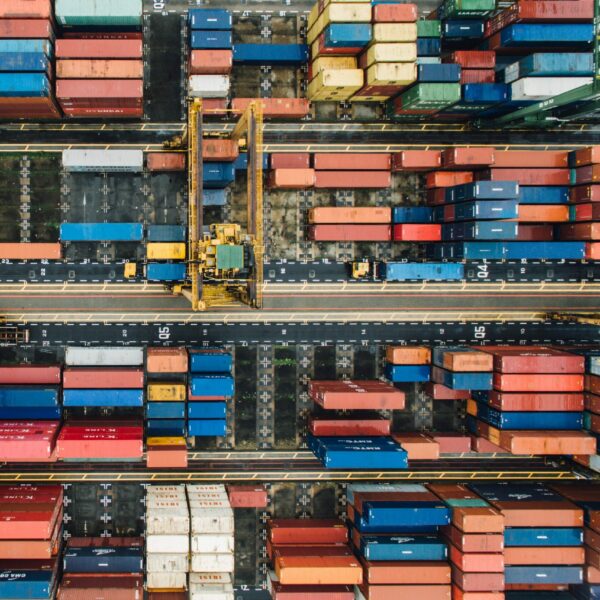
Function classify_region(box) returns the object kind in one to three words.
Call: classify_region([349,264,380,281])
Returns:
vehicle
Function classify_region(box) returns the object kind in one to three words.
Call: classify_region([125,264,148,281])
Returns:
vehicle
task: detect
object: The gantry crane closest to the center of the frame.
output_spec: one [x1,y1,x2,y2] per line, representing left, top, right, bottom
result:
[169,95,264,313]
